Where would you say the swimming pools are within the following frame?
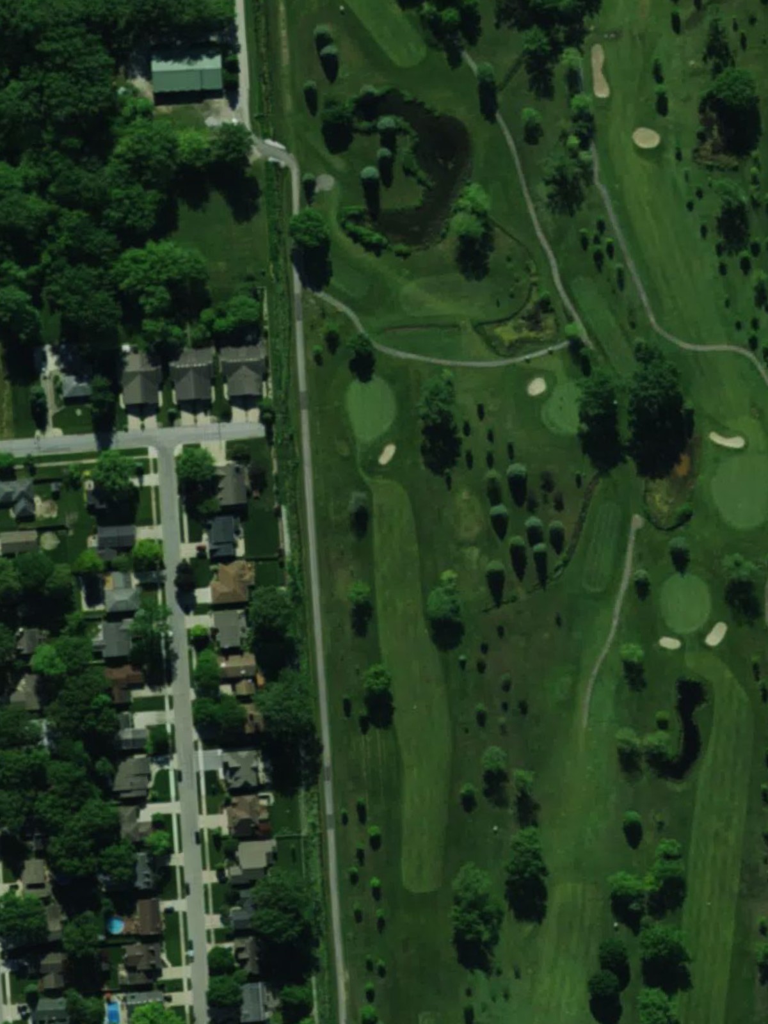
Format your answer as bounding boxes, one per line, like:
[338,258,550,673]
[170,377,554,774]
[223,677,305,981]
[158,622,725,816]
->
[107,917,124,934]
[104,999,122,1024]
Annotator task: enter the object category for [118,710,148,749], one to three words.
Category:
house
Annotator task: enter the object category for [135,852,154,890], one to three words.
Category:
house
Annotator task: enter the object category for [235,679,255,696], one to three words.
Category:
building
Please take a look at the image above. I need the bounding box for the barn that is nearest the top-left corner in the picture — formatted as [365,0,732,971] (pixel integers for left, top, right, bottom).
[151,46,222,92]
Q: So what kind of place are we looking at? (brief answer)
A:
golf course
